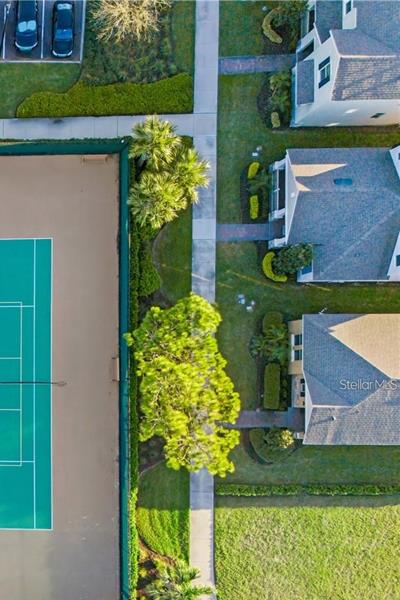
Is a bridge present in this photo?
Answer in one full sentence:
No, I find no bridge anywhere in the image.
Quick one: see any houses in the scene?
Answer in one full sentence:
Yes, a house can be made out from above.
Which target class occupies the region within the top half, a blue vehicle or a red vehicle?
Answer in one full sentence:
The feature located within the top half is a blue vehicle.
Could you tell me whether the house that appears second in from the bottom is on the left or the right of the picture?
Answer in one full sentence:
The house that appears second in from the bottom sits on the right side.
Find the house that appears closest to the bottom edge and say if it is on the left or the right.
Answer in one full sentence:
It is on the right.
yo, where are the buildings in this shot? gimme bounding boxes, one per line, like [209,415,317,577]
[270,143,400,282]
[288,310,400,445]
[291,0,400,125]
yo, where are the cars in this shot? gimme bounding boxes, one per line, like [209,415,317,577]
[49,0,78,59]
[13,0,41,54]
